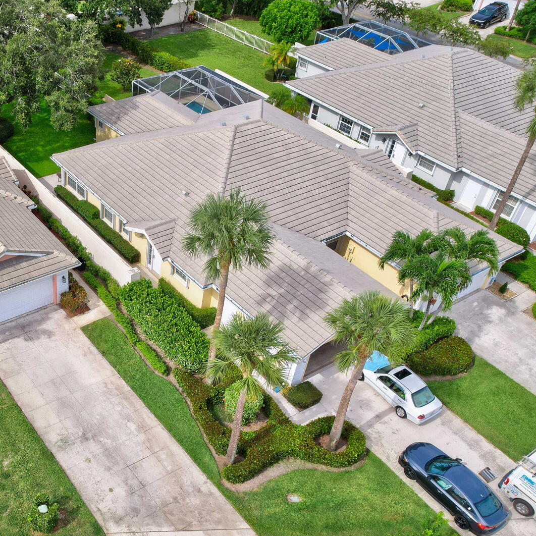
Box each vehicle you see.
[472,2,510,26]
[402,446,519,536]
[360,359,446,424]
[494,447,536,519]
